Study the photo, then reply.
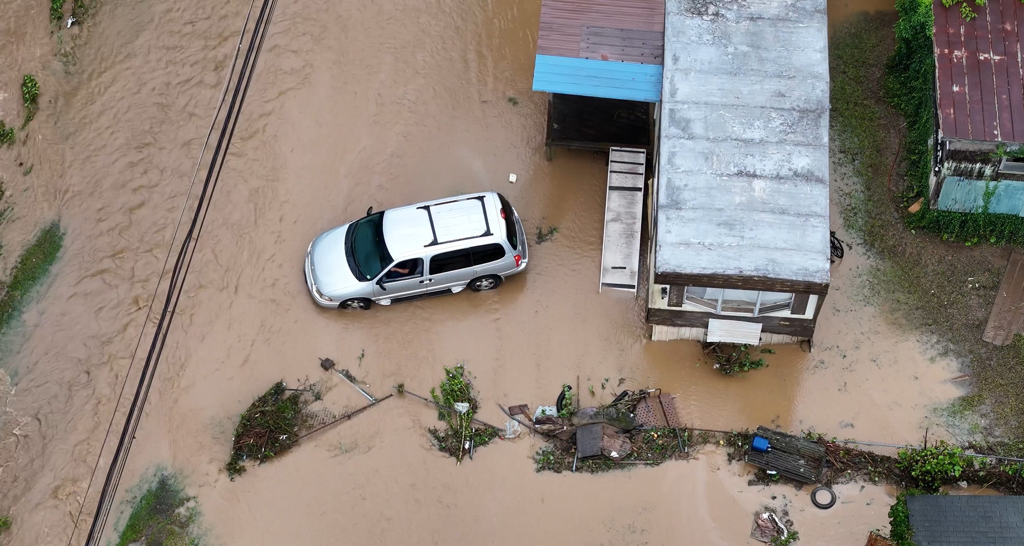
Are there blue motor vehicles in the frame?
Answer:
No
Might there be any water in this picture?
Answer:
Yes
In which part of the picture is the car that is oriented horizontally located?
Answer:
center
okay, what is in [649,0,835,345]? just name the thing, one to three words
house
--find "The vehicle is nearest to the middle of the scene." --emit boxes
[303,193,531,309]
